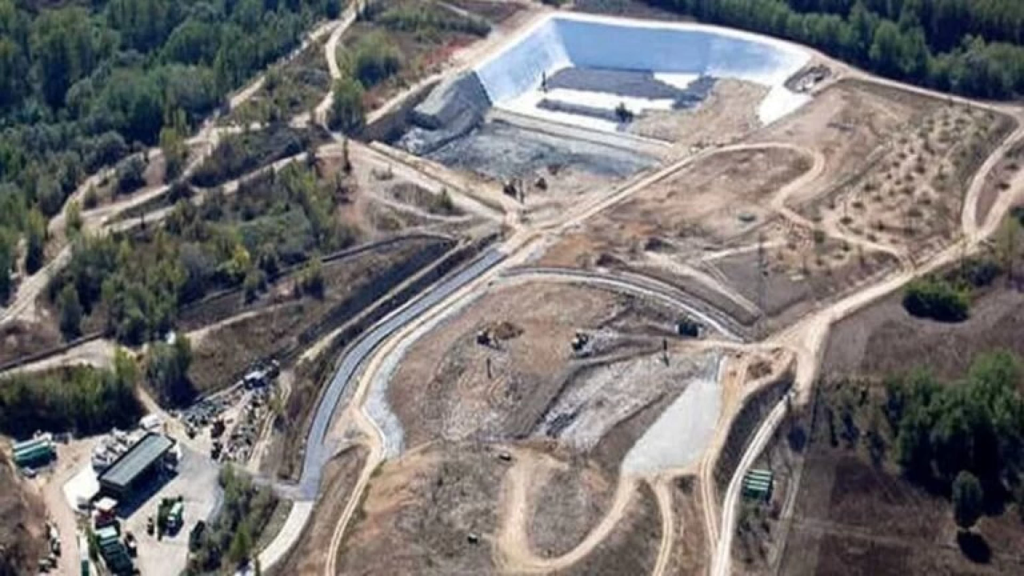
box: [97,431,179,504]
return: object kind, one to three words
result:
shed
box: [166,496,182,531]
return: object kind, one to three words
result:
vehicle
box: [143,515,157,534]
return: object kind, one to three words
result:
work vehicle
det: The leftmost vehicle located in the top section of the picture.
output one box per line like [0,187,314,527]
[530,178,550,190]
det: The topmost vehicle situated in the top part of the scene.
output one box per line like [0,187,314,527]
[617,103,632,121]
